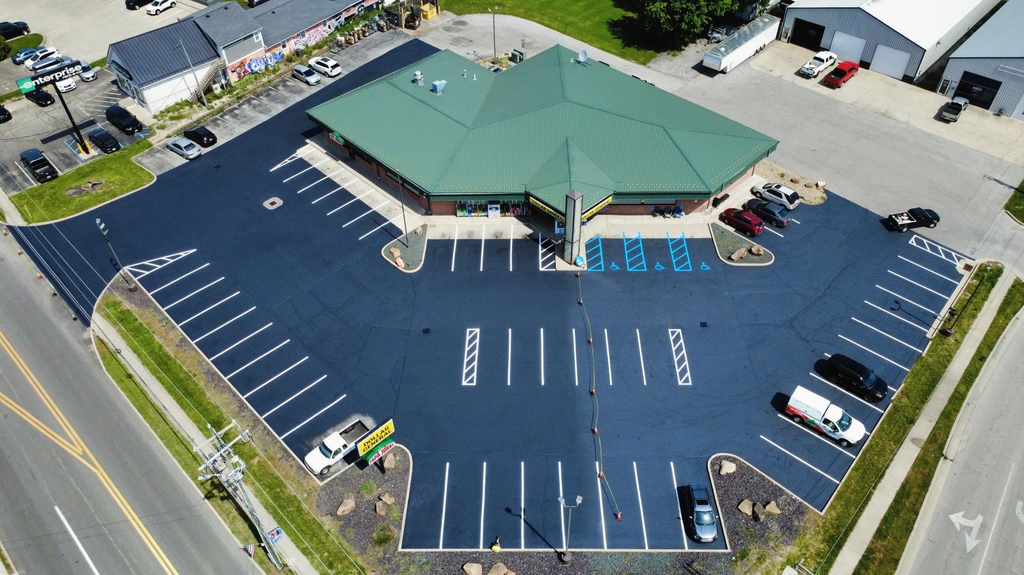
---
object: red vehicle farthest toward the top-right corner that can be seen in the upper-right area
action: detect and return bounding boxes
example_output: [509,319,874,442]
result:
[824,65,858,87]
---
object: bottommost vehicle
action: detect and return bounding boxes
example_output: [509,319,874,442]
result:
[683,482,719,548]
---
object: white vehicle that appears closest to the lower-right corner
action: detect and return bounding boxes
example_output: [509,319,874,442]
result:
[785,381,869,450]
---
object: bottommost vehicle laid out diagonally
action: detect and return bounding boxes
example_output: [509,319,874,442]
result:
[303,418,369,478]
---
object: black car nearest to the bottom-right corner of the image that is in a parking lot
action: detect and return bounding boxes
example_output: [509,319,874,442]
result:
[818,353,889,404]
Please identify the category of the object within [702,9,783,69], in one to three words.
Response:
trailer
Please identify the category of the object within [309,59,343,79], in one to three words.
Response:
car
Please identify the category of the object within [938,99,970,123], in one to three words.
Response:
truck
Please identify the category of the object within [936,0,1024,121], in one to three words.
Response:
building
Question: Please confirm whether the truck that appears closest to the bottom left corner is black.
No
